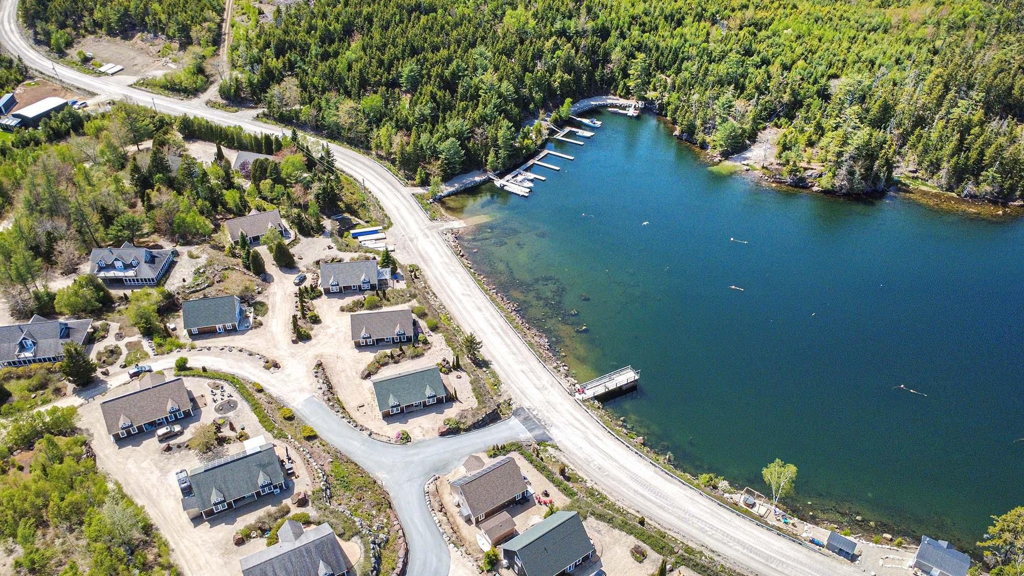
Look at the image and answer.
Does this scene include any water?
Yes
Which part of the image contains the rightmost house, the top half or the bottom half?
bottom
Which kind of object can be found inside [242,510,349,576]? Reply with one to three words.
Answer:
house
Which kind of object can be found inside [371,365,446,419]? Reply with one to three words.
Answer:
house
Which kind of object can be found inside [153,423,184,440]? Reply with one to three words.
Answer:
car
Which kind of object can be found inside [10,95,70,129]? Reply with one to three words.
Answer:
barn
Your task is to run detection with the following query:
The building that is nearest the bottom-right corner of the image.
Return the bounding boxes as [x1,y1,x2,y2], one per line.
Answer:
[909,530,970,576]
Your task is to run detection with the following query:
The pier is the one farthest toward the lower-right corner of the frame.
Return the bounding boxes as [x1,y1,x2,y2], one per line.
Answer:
[574,363,645,403]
